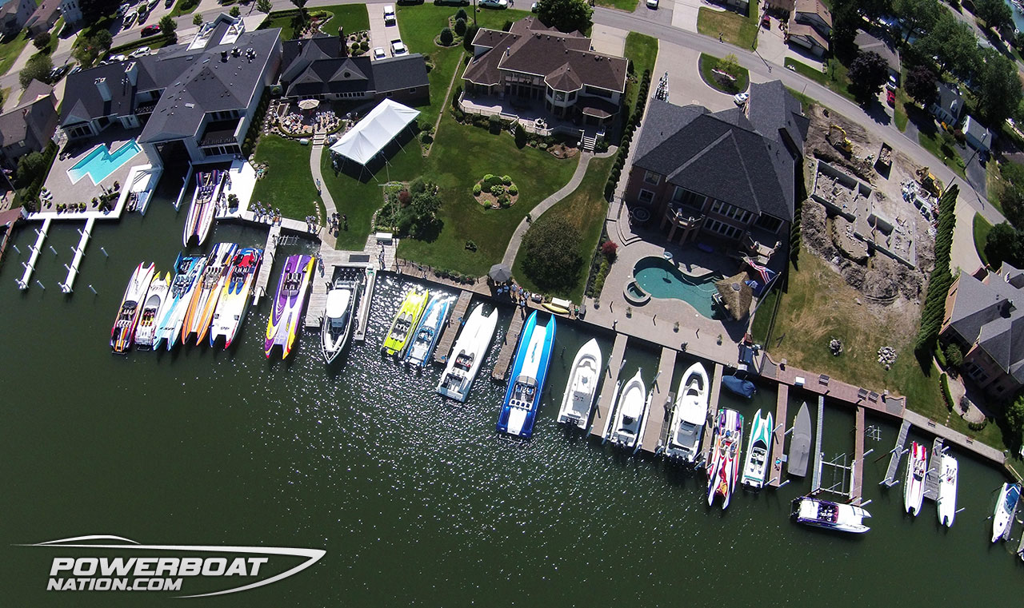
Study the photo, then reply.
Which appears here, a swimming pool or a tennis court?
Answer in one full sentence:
Visible in the photo is a swimming pool.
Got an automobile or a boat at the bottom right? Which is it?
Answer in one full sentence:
Visible at the bottom right is a boat.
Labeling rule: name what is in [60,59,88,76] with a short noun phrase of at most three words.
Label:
car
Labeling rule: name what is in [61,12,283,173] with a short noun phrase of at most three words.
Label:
house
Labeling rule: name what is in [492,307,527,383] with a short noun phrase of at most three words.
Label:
pier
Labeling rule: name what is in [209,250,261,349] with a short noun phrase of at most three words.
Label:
boat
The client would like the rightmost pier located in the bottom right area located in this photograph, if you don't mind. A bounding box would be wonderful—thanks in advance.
[999,483,1024,541]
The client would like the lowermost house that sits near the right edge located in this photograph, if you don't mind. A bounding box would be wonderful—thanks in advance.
[939,262,1024,399]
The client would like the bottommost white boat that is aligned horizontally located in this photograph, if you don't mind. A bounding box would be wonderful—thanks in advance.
[787,496,870,535]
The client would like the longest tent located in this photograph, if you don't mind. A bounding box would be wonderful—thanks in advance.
[318,98,429,181]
